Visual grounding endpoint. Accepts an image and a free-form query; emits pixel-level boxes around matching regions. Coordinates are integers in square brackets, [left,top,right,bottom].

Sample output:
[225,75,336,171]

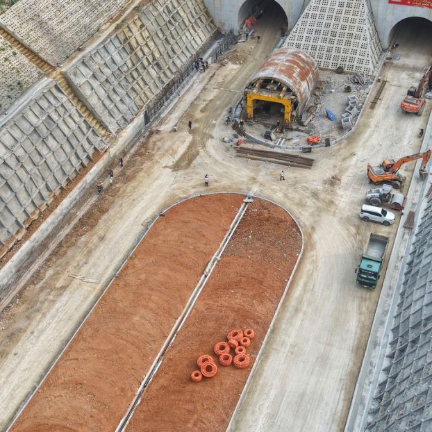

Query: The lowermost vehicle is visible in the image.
[354,231,392,289]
